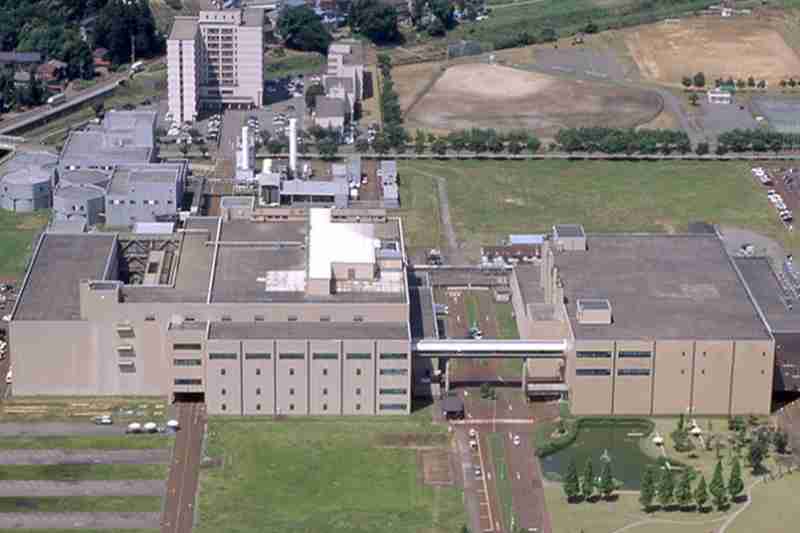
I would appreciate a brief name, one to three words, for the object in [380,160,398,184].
building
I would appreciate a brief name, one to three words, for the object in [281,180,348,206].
shed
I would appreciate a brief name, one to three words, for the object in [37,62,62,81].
house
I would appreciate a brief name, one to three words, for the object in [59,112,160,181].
building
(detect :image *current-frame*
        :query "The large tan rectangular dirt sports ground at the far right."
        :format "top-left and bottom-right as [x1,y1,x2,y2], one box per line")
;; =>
[624,20,800,89]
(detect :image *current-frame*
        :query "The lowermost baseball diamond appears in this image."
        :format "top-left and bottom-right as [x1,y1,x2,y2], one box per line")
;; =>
[402,62,666,134]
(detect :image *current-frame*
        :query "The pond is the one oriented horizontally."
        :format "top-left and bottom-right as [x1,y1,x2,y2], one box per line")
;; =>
[542,421,684,488]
